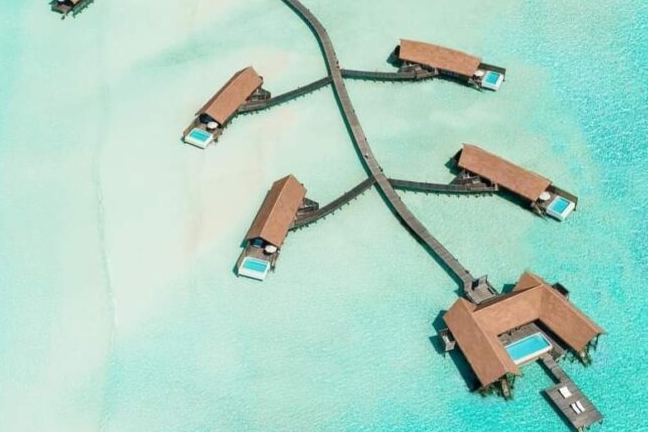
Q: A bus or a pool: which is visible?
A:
pool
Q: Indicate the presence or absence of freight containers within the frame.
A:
No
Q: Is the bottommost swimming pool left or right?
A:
right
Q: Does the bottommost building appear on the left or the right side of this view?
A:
right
